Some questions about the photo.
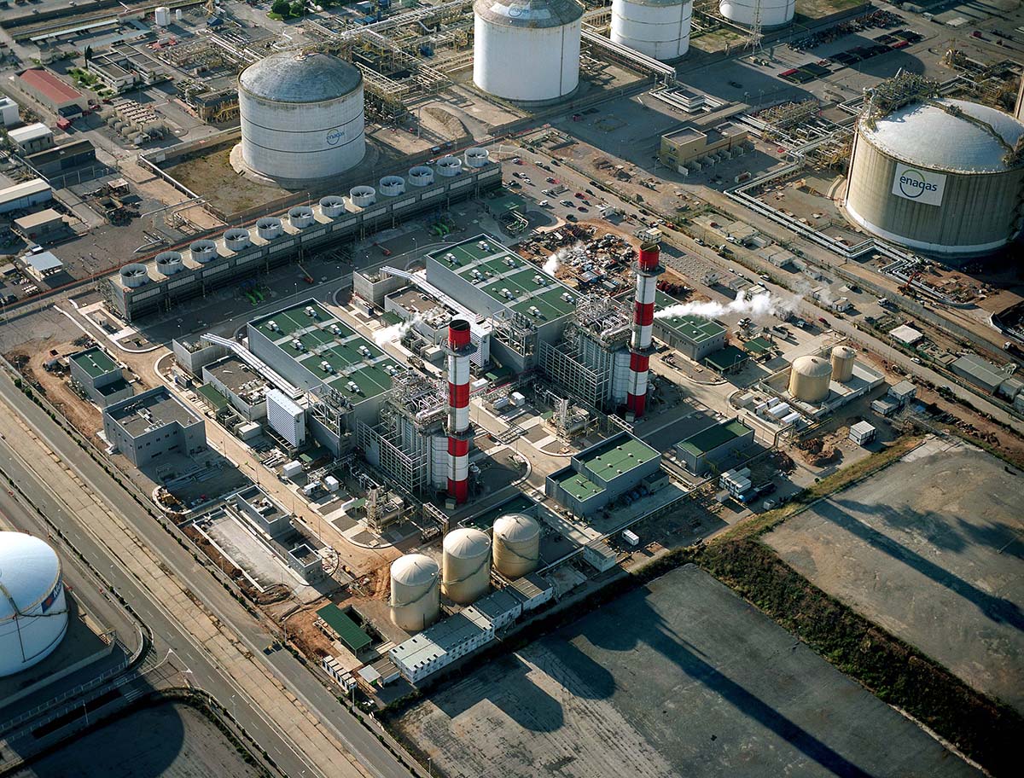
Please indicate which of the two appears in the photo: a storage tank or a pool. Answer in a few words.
storage tank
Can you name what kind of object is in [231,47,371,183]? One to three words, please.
storage tank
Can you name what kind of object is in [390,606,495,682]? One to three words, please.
building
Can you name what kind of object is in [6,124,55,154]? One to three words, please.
shed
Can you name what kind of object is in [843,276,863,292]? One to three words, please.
vehicle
